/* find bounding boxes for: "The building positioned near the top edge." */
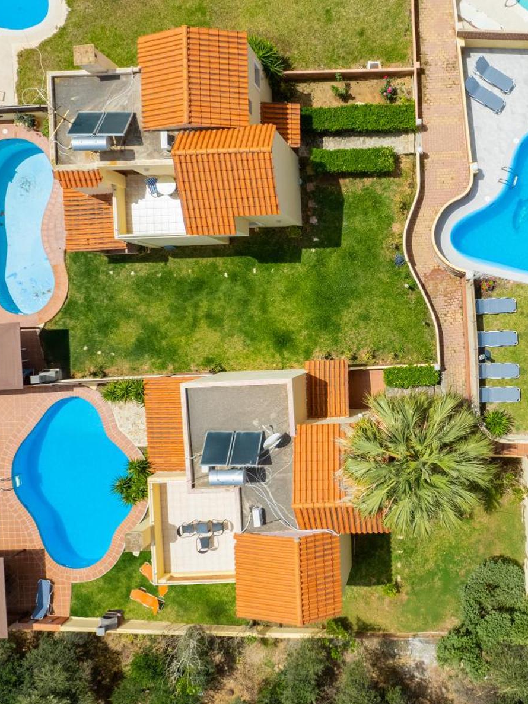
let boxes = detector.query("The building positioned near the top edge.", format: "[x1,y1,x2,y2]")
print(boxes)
[49,23,305,255]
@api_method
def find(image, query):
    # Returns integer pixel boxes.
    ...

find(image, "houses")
[49,23,305,255]
[117,359,390,630]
